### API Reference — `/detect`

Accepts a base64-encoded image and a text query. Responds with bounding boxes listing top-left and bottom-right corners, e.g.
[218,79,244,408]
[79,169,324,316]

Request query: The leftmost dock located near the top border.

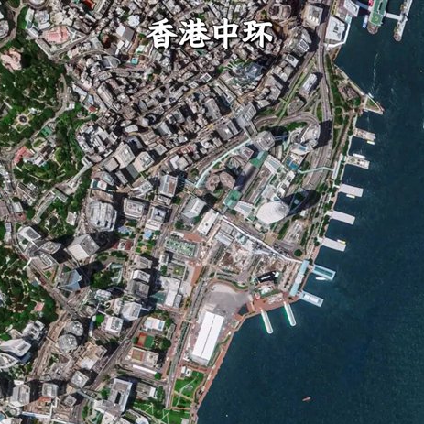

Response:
[367,0,388,34]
